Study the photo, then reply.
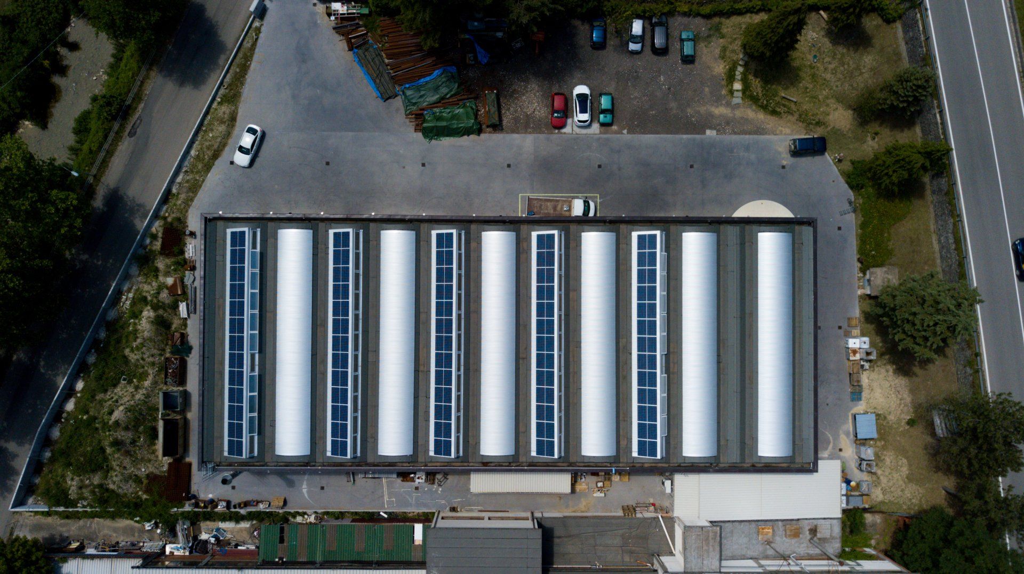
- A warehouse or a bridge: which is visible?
warehouse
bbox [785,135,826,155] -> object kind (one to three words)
vehicle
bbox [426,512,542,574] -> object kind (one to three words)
building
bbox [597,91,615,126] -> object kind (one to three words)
car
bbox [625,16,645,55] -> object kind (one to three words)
car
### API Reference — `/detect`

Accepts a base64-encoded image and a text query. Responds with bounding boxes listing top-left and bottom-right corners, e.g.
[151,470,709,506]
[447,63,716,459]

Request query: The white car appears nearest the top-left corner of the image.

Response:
[232,122,265,166]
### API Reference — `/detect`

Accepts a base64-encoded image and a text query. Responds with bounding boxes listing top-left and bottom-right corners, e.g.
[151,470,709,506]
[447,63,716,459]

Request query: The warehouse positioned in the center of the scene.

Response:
[198,214,818,476]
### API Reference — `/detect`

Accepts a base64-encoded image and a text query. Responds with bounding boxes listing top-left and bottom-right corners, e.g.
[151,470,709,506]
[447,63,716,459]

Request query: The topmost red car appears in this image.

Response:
[549,91,568,128]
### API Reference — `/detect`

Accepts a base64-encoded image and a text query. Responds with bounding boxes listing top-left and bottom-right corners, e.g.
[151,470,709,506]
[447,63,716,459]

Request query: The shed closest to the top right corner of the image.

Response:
[861,266,898,296]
